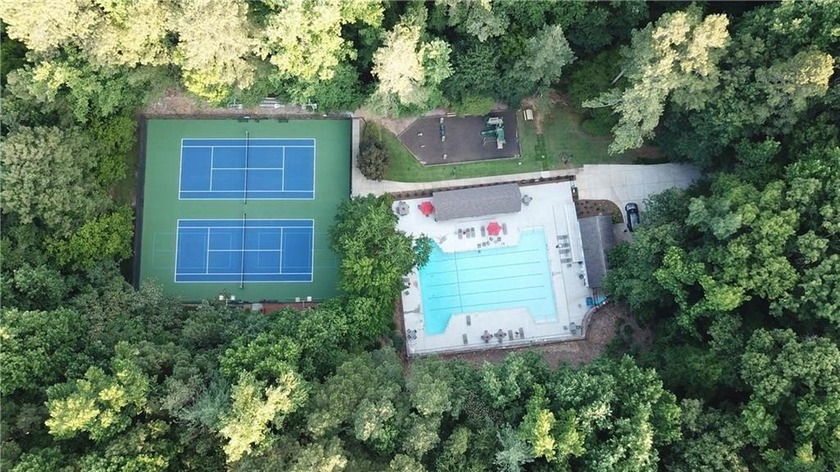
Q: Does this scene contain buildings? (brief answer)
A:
Yes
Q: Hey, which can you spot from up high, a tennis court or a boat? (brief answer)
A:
tennis court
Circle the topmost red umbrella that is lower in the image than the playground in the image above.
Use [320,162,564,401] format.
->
[420,200,434,214]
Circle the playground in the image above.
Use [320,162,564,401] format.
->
[395,108,522,166]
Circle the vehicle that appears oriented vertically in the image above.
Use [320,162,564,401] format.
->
[624,204,640,231]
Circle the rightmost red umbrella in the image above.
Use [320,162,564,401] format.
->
[488,220,502,234]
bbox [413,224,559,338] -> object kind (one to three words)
swimming pool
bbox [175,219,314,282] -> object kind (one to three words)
tennis court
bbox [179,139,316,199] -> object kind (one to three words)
tennis court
